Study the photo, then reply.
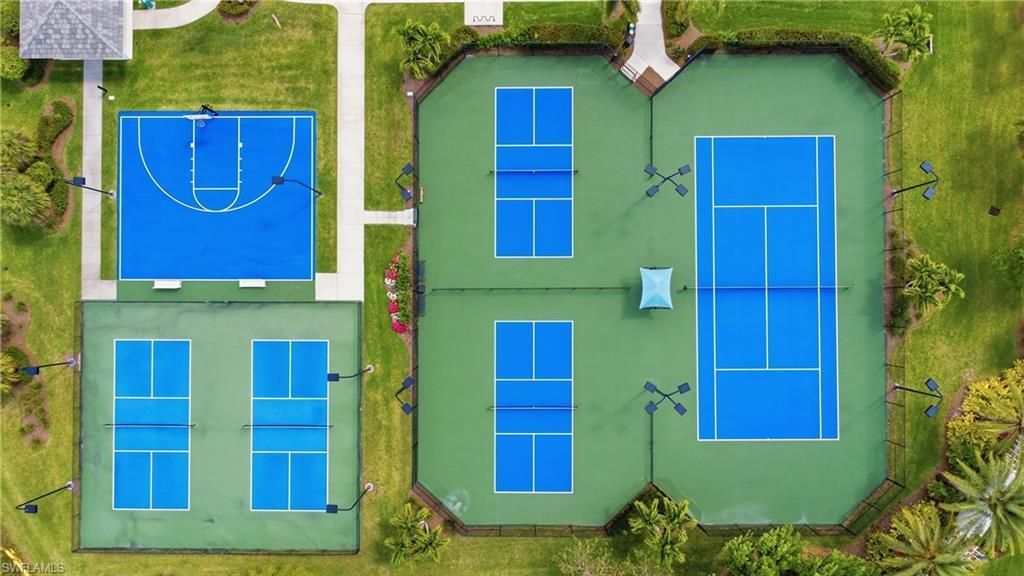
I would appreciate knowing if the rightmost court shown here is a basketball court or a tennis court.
tennis court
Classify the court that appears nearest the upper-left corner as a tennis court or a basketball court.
basketball court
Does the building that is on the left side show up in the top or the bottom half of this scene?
top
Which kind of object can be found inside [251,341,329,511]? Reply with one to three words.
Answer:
sports court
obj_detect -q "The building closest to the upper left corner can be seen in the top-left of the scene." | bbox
[19,0,133,61]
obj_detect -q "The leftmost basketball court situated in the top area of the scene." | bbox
[115,110,317,280]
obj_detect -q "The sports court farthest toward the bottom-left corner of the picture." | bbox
[112,340,191,510]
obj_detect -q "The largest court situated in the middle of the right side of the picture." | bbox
[696,137,839,440]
